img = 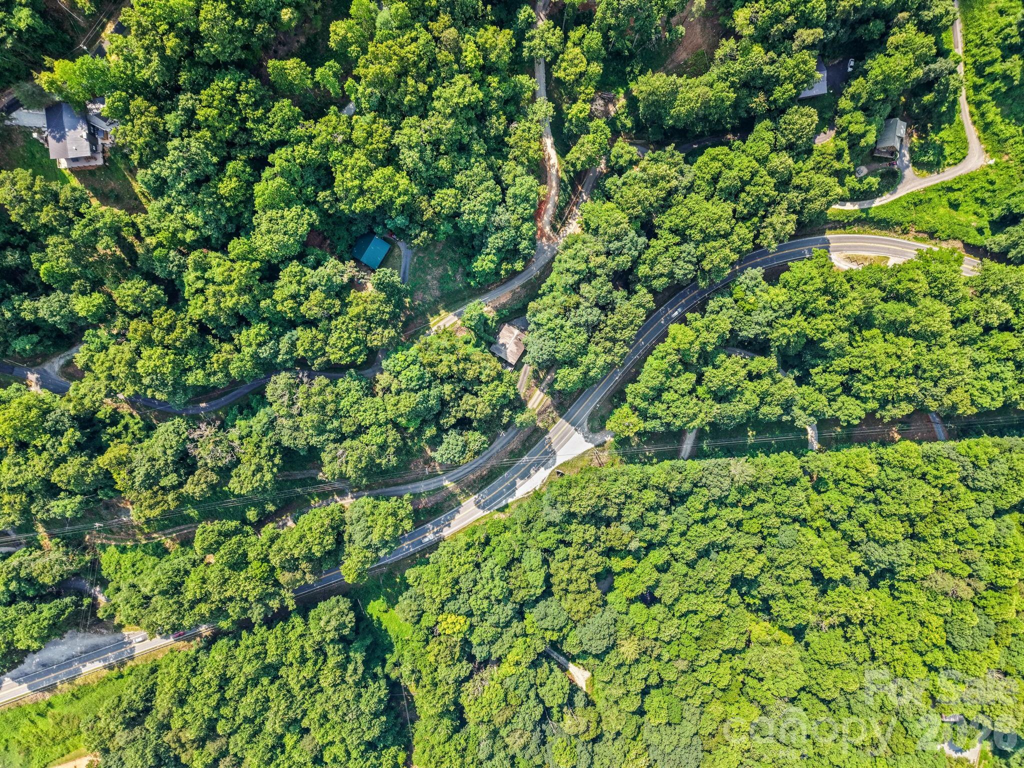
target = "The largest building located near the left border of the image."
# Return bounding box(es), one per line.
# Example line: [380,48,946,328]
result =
[33,103,116,170]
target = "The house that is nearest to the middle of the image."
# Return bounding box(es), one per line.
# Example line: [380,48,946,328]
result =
[490,324,529,373]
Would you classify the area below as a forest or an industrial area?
forest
